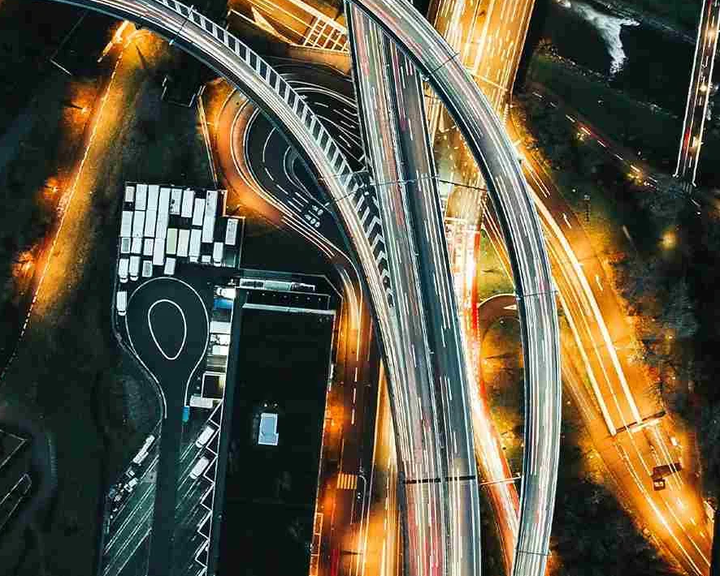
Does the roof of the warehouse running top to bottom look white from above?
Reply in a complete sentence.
No, the roof of the warehouse running top to bottom is actually black.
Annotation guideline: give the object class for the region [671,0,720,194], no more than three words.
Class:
bridge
